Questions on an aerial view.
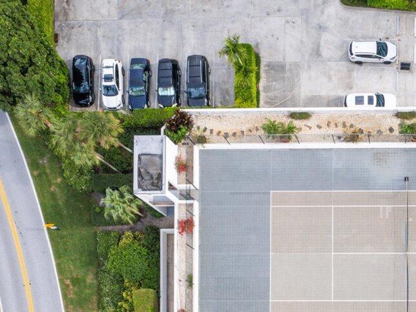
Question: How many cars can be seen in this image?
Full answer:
In total, 7 cars can be seen.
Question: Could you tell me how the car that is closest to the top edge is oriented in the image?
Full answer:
From this overhead view, the car that is closest to the top edge appears to run from left to right.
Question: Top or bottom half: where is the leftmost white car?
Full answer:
The leftmost white car is in the top half of the image.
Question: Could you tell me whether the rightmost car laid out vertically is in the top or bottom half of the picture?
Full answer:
The rightmost car laid out vertically is in the top half of the image.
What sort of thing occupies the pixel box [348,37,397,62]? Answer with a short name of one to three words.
car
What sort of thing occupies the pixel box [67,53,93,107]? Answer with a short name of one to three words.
car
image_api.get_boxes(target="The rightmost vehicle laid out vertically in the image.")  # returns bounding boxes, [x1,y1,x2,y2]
[183,52,209,108]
